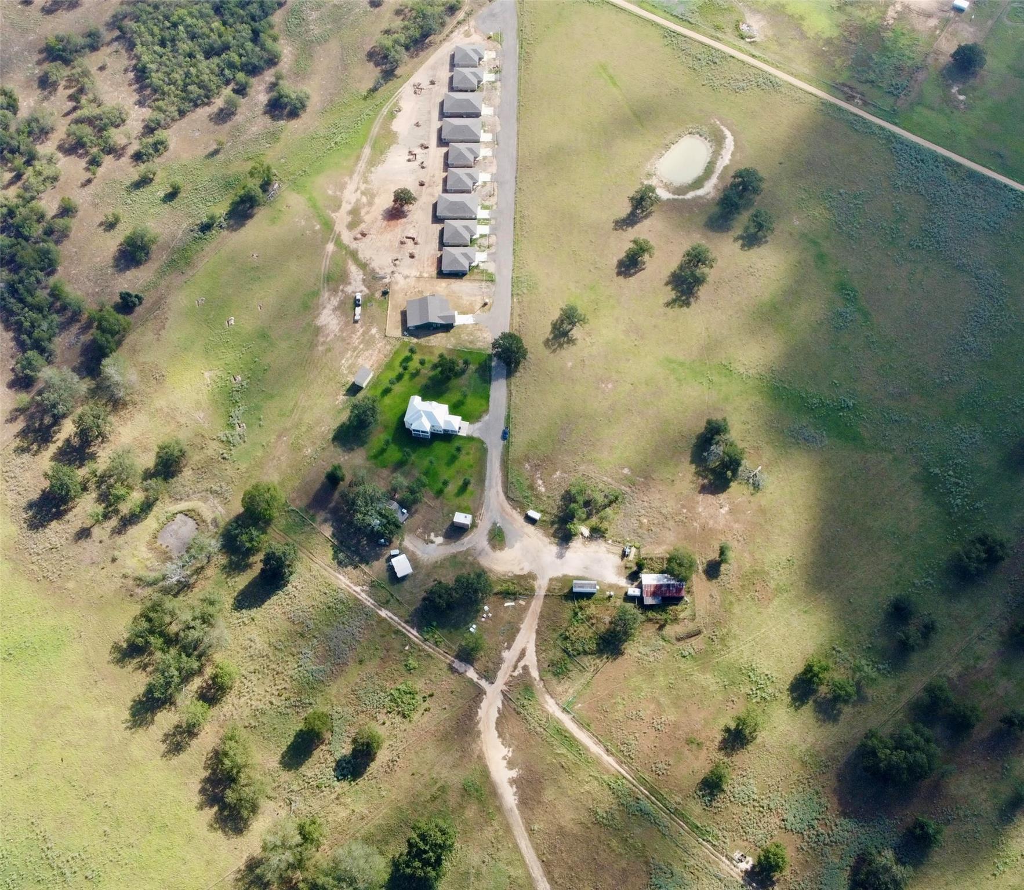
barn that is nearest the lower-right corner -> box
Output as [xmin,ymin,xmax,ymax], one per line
[642,574,685,607]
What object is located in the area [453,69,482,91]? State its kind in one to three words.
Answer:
house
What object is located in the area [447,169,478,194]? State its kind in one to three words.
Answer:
house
